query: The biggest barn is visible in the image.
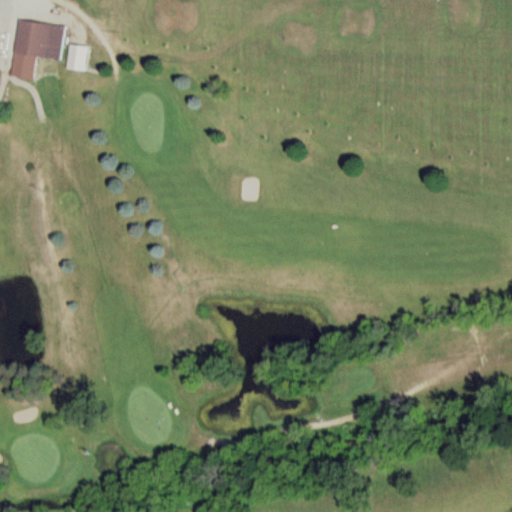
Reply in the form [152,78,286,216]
[11,18,68,78]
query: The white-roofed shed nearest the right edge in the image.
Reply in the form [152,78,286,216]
[66,44,90,72]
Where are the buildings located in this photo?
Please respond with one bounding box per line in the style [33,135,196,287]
[66,44,90,72]
[11,18,68,78]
